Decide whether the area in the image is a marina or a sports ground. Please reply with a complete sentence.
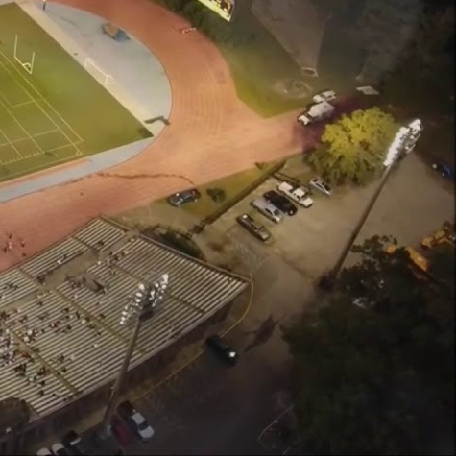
This image shows a sports ground.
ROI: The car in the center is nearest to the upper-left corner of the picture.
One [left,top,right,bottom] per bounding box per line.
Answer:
[172,187,198,203]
